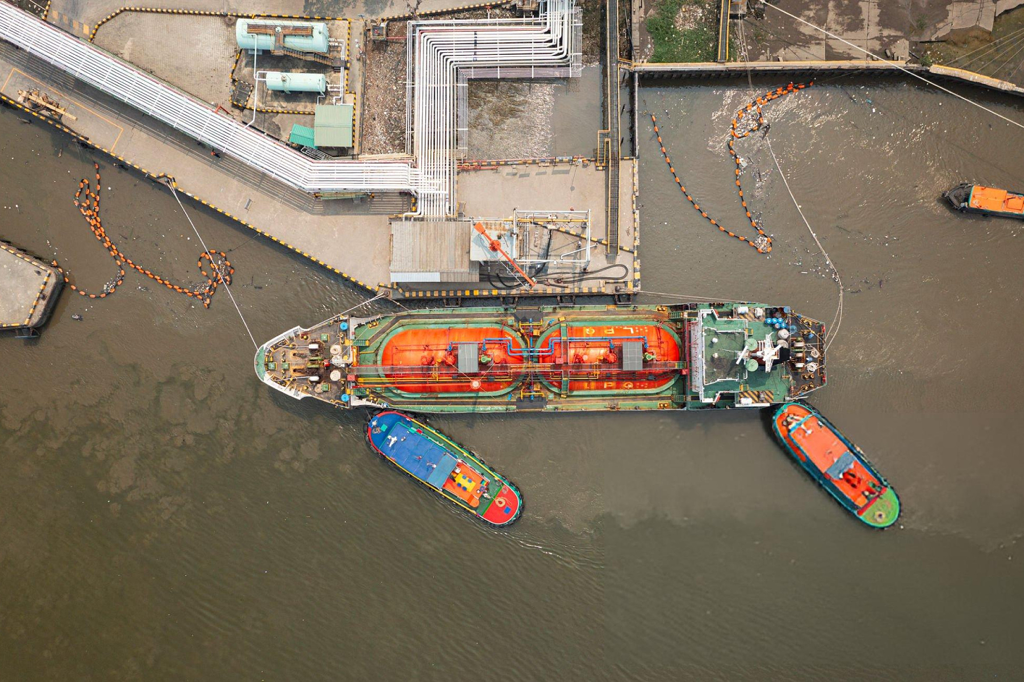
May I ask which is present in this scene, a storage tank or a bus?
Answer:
storage tank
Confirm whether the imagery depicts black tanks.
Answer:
No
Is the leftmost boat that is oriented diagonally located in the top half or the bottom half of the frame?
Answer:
bottom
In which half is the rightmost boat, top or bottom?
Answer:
top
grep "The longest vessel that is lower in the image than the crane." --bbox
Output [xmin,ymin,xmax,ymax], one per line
[254,303,831,414]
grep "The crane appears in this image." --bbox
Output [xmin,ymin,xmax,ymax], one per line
[471,218,538,293]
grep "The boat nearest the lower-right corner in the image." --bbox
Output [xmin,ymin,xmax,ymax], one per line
[772,396,904,532]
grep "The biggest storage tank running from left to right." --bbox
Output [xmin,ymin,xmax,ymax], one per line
[236,19,348,72]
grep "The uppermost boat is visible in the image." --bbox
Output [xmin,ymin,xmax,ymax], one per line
[938,179,1024,222]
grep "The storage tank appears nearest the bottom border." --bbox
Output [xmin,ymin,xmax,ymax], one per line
[258,69,328,104]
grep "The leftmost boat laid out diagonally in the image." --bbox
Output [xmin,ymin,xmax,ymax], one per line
[364,409,521,530]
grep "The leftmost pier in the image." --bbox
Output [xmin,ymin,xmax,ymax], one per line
[0,236,69,333]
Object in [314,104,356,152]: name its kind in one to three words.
shed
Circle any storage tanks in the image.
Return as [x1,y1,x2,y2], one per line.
[236,19,348,72]
[258,69,328,104]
